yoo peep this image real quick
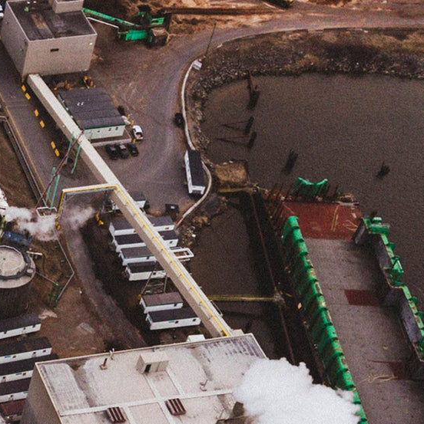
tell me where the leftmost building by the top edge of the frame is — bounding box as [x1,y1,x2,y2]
[0,0,98,75]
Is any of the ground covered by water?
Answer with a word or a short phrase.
Yes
